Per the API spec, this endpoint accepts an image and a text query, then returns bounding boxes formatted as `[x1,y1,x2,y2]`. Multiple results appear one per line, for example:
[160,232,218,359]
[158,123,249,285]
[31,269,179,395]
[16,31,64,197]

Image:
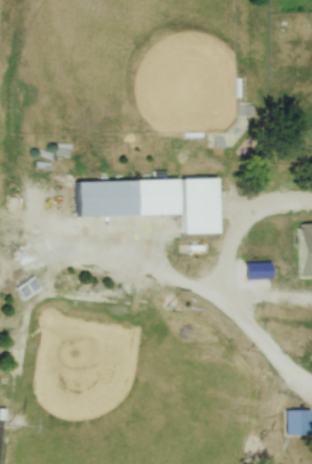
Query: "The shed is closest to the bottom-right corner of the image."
[284,410,312,438]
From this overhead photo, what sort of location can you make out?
sports ground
